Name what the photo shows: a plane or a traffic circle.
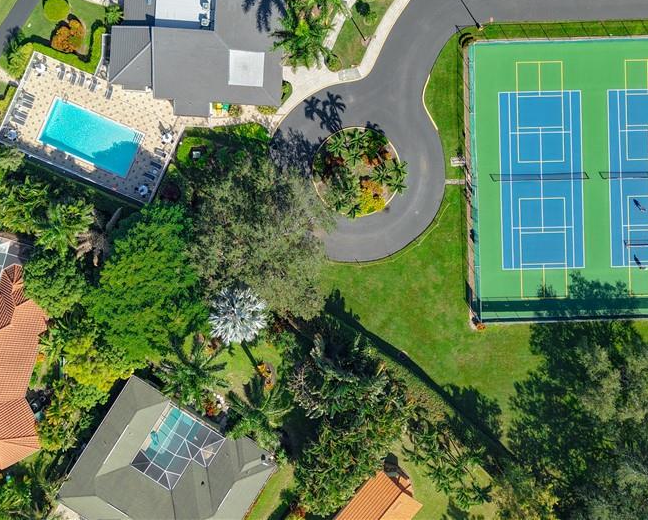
traffic circle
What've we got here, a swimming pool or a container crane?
swimming pool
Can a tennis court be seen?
Yes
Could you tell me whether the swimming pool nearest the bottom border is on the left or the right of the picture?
left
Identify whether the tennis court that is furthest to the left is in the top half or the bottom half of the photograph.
top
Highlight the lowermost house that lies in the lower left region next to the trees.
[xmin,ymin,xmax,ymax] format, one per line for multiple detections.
[58,372,276,520]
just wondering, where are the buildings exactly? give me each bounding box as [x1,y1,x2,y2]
[109,0,284,118]
[0,264,49,470]
[330,461,422,520]
[58,372,276,520]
